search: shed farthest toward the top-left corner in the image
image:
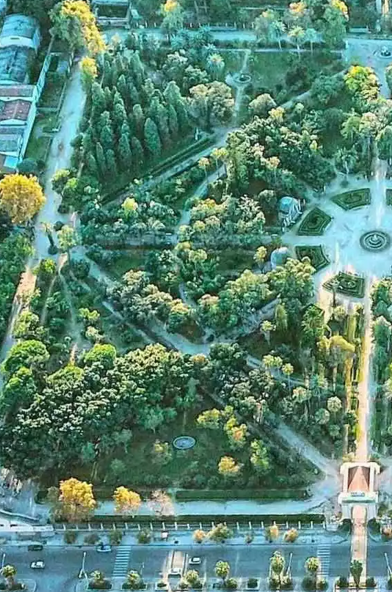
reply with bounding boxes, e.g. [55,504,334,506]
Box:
[0,10,42,50]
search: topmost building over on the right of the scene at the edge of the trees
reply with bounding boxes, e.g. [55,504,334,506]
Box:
[282,200,307,228]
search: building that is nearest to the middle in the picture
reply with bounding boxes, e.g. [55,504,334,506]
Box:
[271,246,296,271]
